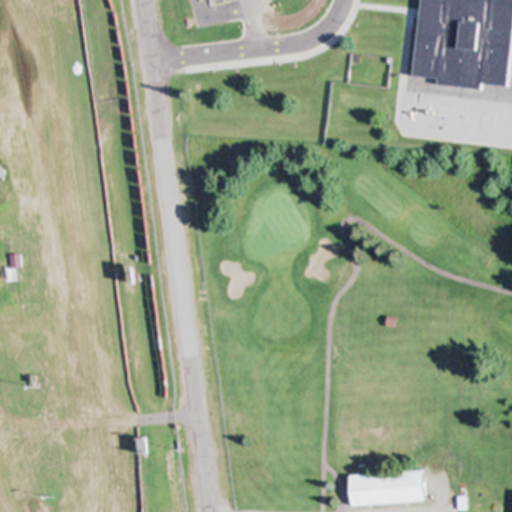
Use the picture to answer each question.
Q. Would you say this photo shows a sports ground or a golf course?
golf course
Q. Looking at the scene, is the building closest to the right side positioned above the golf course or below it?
above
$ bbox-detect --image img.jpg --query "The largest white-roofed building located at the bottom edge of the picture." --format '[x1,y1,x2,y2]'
[348,469,426,507]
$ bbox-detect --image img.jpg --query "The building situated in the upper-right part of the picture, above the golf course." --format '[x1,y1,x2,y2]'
[411,0,512,89]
